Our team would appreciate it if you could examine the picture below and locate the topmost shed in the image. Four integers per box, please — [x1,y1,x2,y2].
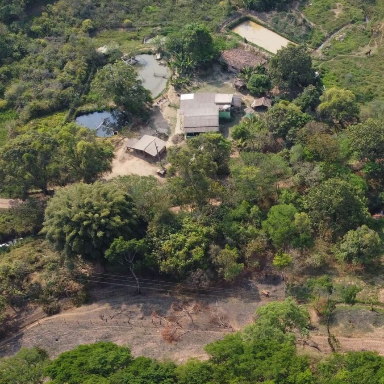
[221,47,267,77]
